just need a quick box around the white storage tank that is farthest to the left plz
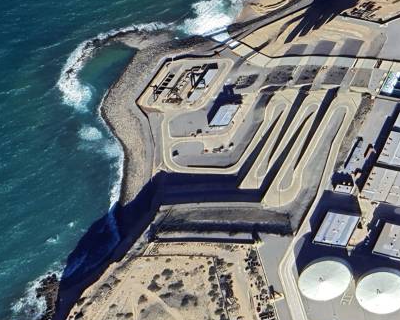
[298,248,353,304]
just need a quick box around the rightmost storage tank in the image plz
[355,261,400,316]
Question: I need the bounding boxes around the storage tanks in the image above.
[355,261,400,316]
[298,248,353,304]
